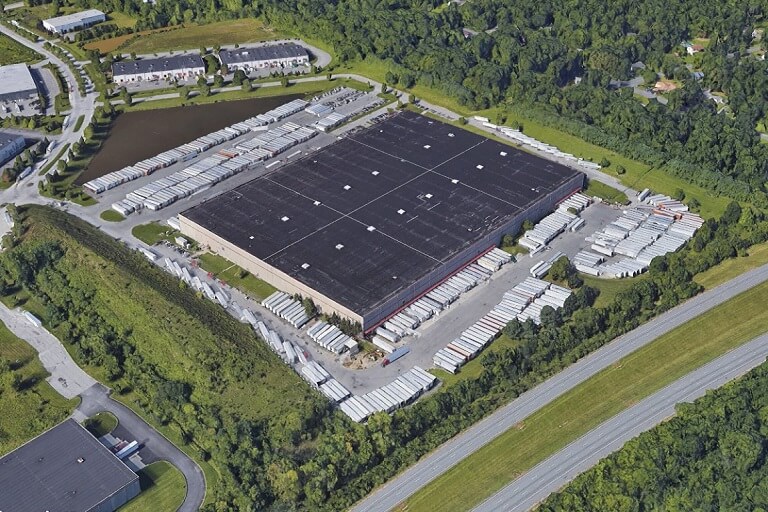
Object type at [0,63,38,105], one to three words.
building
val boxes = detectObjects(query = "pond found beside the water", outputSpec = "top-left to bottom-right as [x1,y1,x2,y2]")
[77,90,320,190]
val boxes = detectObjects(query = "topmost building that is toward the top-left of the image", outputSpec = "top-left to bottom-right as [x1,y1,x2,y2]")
[42,9,108,33]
